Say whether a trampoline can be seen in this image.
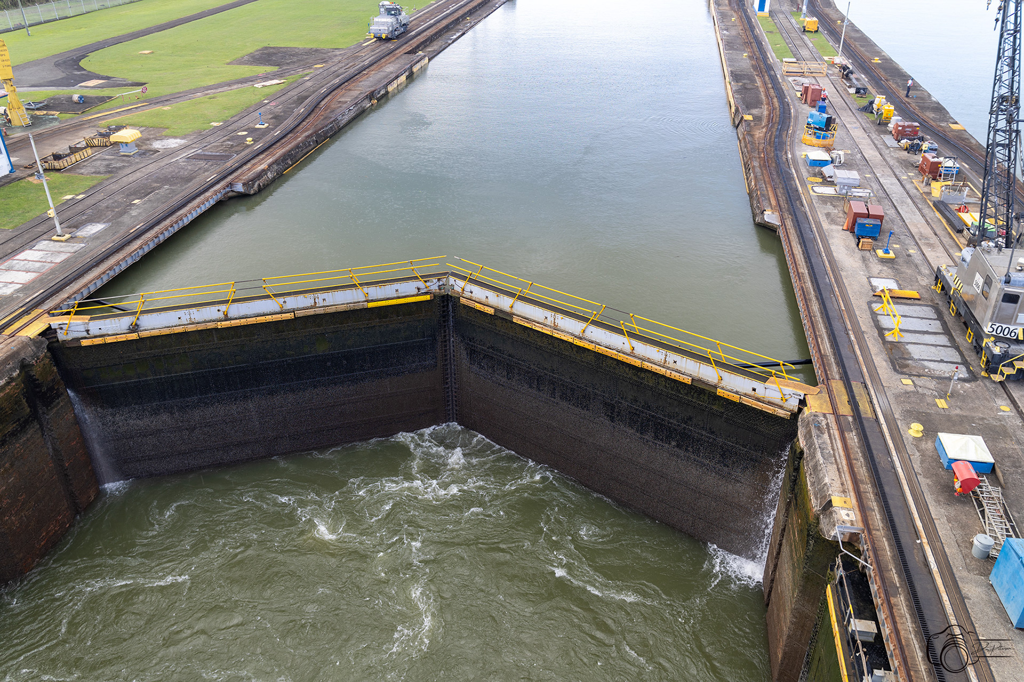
No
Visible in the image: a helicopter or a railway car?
railway car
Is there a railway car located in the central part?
No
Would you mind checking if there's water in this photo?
Yes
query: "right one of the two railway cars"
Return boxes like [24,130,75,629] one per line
[936,244,1024,387]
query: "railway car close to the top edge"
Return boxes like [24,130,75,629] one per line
[368,0,412,37]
